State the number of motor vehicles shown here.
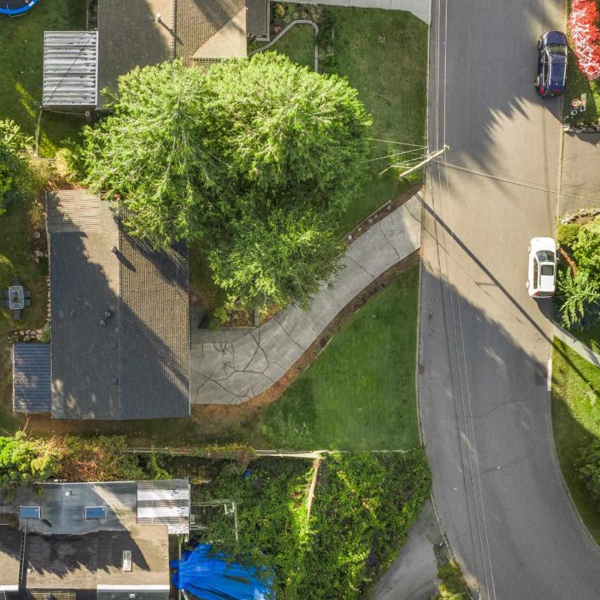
2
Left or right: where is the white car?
right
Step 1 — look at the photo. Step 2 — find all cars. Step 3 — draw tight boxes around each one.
[535,31,571,97]
[526,237,561,299]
